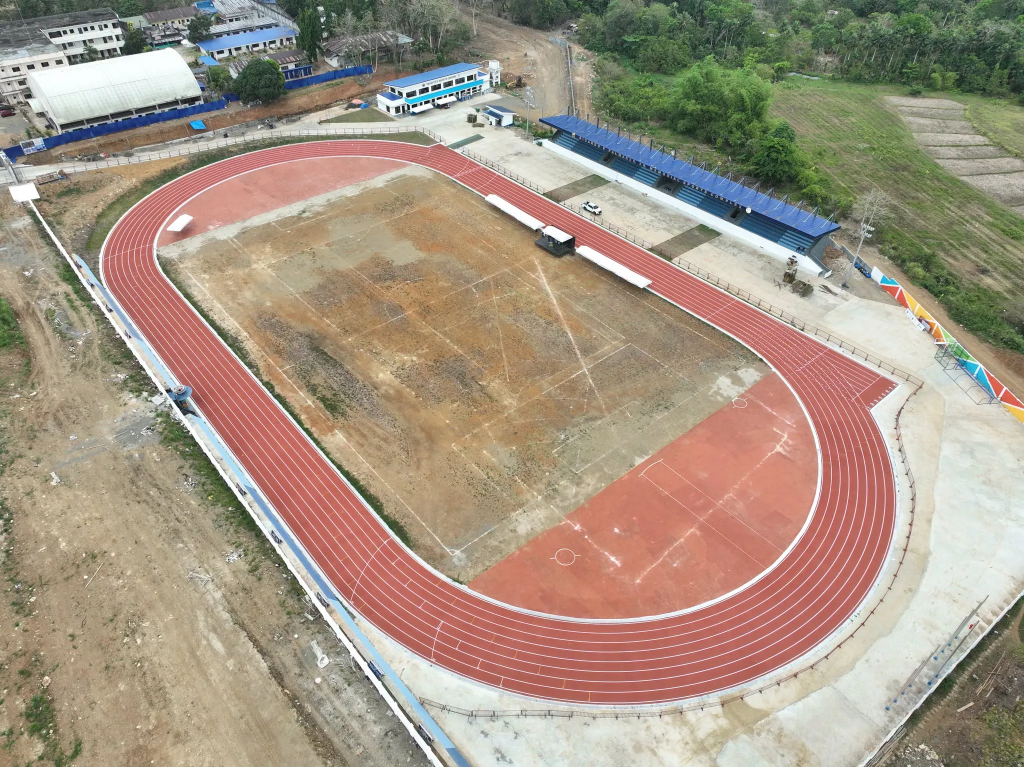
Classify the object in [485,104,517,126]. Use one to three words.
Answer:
shed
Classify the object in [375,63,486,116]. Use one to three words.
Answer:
building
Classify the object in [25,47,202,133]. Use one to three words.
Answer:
building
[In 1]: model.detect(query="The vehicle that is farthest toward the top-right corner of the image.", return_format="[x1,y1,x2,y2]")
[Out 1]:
[582,200,604,214]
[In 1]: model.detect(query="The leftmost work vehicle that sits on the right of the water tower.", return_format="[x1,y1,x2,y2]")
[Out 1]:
[504,74,529,88]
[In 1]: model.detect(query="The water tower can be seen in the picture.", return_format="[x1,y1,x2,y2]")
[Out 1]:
[467,57,503,87]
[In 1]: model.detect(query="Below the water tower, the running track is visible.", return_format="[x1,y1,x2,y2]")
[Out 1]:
[101,140,899,705]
